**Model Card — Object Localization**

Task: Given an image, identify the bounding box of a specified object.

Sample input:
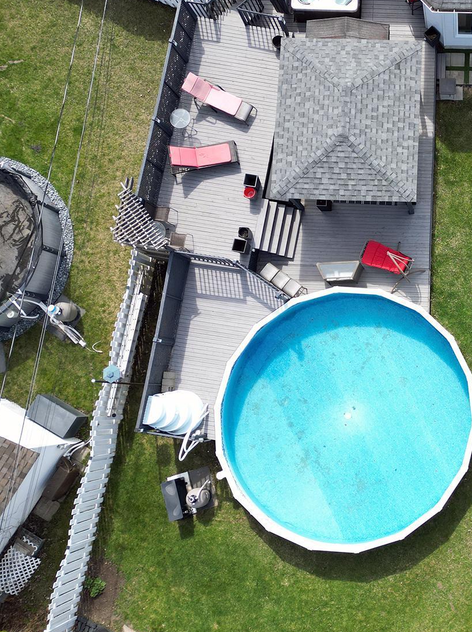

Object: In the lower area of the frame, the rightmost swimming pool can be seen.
[214,286,472,554]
